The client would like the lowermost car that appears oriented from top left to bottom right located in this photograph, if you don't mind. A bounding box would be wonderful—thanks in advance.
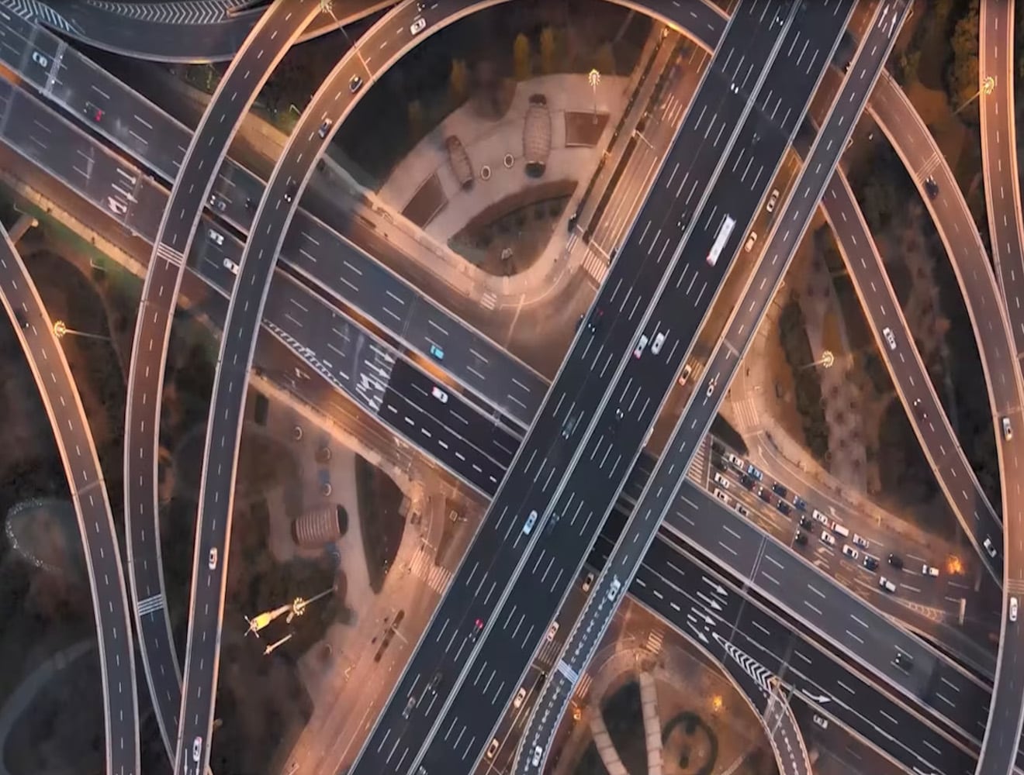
[811,714,830,730]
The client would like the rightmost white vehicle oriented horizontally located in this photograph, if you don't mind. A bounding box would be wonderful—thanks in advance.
[918,565,943,578]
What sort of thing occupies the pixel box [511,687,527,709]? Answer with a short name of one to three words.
car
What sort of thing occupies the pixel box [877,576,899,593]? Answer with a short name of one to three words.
vehicle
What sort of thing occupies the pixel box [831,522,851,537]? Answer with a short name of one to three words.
vehicle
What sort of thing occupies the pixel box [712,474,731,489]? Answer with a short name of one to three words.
car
